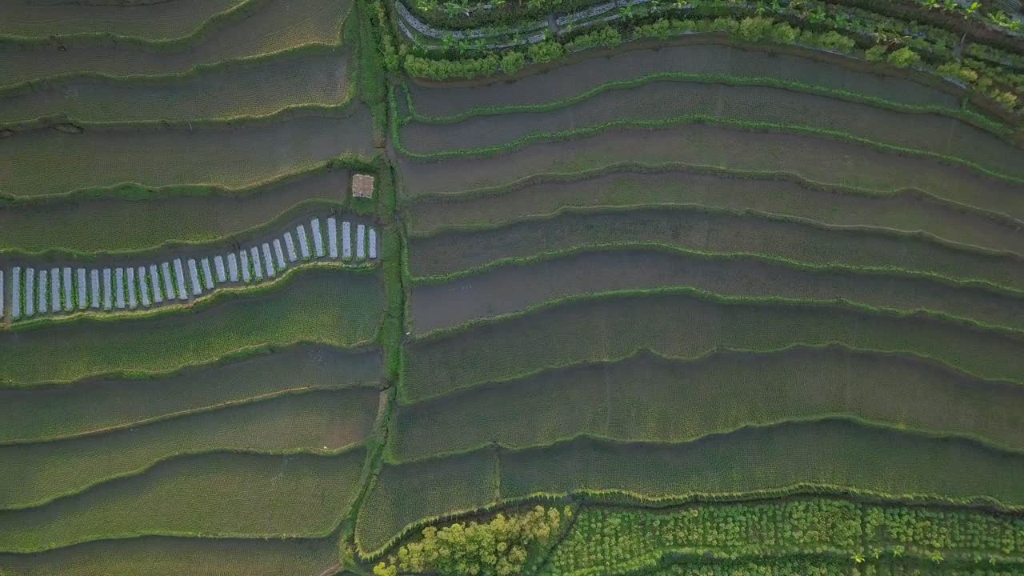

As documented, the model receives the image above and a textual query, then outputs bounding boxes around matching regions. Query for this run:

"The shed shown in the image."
[352,174,375,199]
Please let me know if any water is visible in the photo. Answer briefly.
Yes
